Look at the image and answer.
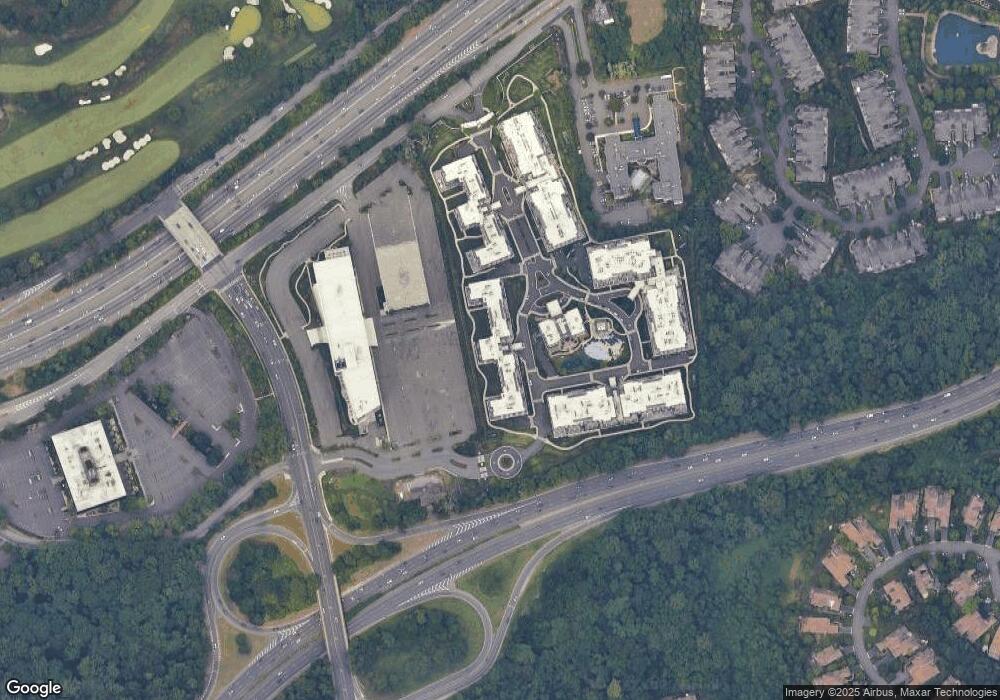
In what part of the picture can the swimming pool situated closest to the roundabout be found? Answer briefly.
center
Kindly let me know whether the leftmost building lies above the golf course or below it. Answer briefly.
below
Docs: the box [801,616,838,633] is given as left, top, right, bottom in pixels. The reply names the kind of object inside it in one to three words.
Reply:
house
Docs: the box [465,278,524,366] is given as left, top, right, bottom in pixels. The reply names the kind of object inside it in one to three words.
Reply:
building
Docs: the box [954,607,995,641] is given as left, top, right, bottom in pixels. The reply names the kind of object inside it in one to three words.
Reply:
house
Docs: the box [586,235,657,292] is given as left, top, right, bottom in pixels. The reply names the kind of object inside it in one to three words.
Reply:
building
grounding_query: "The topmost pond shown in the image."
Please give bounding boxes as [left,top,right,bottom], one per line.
[935,13,1000,66]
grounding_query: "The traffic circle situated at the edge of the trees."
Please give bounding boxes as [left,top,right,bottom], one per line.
[490,446,522,478]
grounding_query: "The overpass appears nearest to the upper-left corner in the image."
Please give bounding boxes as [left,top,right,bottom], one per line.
[157,198,226,270]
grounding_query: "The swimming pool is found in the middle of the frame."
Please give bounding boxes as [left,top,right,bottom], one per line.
[583,339,622,361]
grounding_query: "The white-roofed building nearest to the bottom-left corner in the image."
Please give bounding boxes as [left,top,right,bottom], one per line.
[52,421,127,514]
